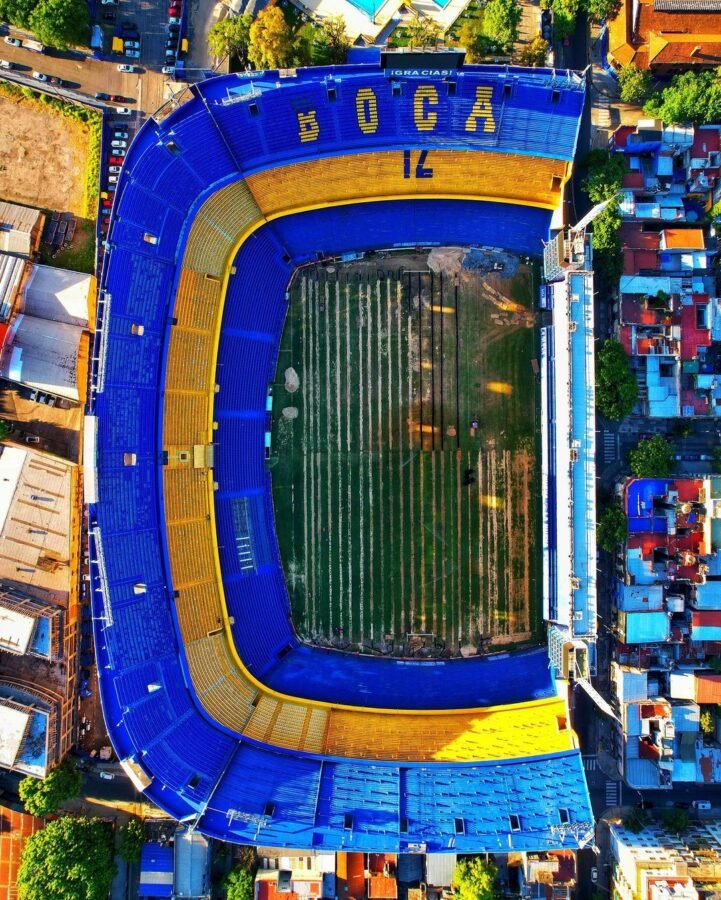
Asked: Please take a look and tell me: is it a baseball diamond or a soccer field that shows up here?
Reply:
soccer field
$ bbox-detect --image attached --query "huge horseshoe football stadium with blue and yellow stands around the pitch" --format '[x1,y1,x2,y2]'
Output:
[84,47,603,857]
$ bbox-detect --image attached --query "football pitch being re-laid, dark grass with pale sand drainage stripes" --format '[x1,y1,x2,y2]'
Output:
[269,249,550,657]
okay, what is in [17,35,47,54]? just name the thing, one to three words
vehicle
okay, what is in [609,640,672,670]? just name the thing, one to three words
house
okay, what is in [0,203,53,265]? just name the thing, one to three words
building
